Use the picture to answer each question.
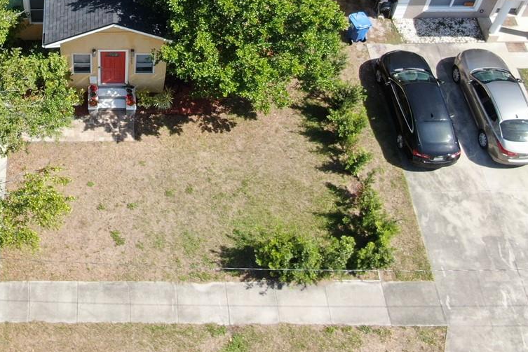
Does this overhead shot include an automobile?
Yes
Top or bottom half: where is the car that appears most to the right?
top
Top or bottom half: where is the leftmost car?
top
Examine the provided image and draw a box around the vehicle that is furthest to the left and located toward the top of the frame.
[378,51,460,163]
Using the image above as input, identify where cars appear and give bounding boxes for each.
[378,51,460,163]
[460,49,528,161]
